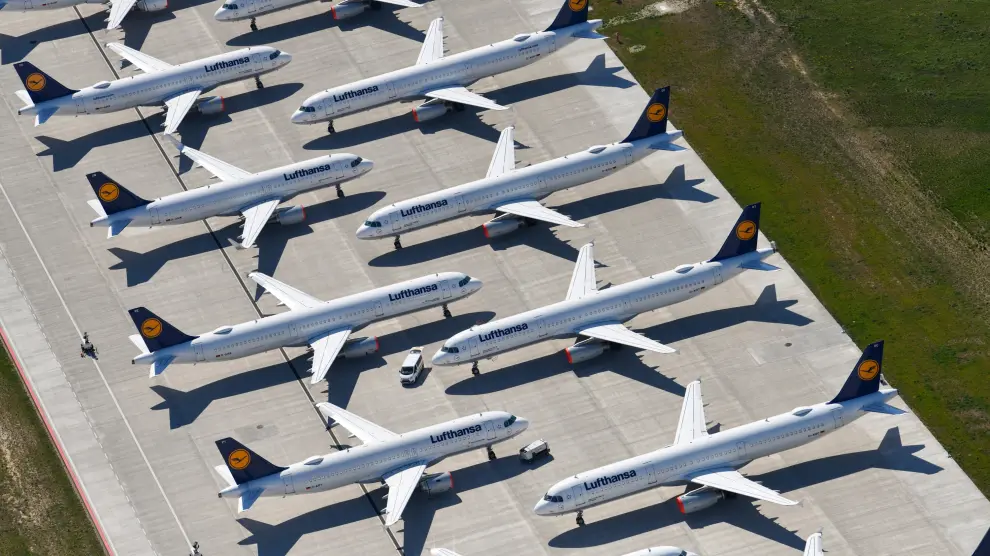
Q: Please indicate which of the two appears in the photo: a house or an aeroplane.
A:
aeroplane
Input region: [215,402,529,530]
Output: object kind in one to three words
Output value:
airplane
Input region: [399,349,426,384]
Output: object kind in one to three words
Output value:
vehicle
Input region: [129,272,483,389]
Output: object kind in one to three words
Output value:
airplane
